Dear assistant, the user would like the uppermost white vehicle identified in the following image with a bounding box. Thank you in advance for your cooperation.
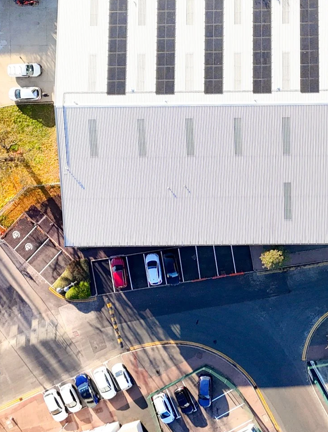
[7,61,43,78]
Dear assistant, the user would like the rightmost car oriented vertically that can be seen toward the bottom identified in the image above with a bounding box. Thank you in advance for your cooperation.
[196,374,213,408]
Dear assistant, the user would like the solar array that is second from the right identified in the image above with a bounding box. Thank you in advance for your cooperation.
[251,0,272,93]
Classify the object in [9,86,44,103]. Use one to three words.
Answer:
car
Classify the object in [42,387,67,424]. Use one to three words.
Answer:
car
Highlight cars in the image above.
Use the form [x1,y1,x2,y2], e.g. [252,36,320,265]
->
[92,364,117,400]
[9,86,44,103]
[196,374,213,408]
[42,387,67,424]
[144,252,162,287]
[163,248,182,284]
[152,391,174,425]
[176,384,196,416]
[111,359,134,395]
[59,380,83,414]
[110,255,131,293]
[76,370,99,408]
